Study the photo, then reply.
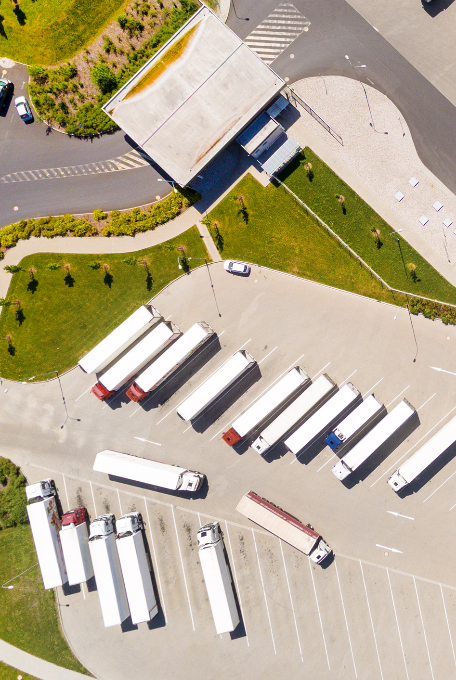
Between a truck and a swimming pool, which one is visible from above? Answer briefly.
truck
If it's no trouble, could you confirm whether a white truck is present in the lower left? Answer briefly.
Yes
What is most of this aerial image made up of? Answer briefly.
paved ground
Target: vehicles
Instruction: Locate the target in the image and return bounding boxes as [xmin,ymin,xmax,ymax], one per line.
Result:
[236,489,336,560]
[249,373,337,456]
[196,522,239,634]
[27,478,69,589]
[223,260,252,275]
[322,392,384,450]
[0,80,14,111]
[115,512,158,624]
[387,415,456,492]
[125,321,216,403]
[60,502,95,583]
[89,513,129,626]
[93,450,205,494]
[17,97,34,122]
[90,321,181,403]
[331,397,415,480]
[221,365,310,447]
